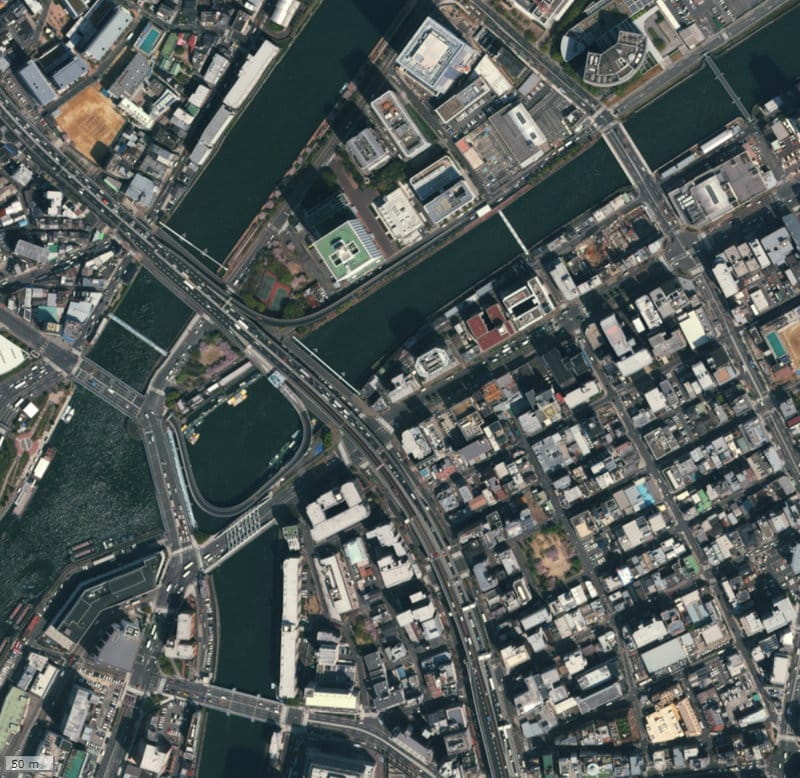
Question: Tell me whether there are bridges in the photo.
Yes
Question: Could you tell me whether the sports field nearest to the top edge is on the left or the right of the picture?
left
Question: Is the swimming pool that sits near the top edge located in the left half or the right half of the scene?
left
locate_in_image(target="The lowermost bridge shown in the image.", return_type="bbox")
[159,676,295,726]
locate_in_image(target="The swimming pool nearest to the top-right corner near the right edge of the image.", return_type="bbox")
[765,329,788,360]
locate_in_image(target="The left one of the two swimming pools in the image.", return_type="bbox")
[134,23,167,56]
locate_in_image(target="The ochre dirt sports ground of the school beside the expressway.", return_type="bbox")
[58,83,125,164]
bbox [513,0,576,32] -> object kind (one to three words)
building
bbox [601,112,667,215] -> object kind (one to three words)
bridge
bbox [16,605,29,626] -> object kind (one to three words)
ship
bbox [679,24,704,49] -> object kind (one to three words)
house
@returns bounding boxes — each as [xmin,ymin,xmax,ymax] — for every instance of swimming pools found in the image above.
[765,329,788,360]
[134,23,167,56]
